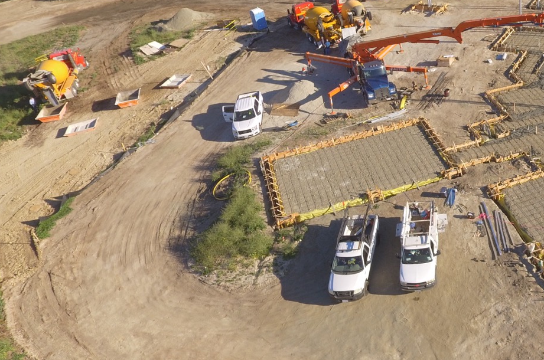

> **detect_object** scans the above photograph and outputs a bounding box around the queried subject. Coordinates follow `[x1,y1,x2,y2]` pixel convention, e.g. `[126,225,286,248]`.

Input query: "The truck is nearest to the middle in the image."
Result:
[217,87,266,136]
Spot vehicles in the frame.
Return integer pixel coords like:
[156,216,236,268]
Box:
[304,16,544,115]
[19,45,88,107]
[329,0,373,43]
[292,3,345,52]
[322,200,384,296]
[217,87,266,136]
[390,193,447,287]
